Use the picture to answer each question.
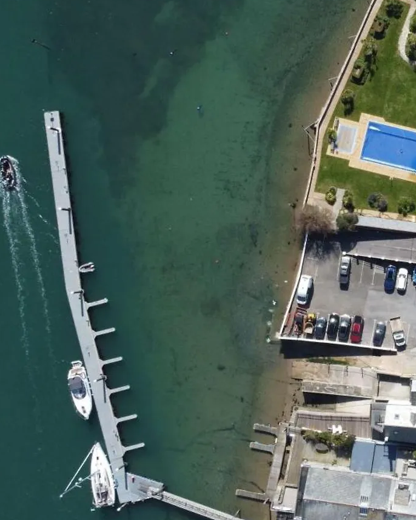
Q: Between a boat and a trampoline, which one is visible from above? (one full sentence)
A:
I can see a boat in this picture.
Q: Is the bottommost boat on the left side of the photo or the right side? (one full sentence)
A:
The bottommost boat is on the left side of the image.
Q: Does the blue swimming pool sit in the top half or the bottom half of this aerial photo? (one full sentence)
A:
The blue swimming pool is in the top half of the image.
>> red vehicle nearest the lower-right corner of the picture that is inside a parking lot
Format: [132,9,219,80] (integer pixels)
[349,317,366,343]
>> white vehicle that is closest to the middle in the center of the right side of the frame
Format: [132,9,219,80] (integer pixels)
[294,277,315,304]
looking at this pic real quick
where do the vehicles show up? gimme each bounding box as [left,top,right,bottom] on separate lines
[325,313,340,341]
[386,318,406,349]
[291,305,303,334]
[338,316,352,343]
[349,317,366,343]
[294,277,315,304]
[303,317,315,339]
[315,317,328,339]
[339,257,352,286]
[383,266,397,291]
[396,269,409,292]
[372,321,388,345]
